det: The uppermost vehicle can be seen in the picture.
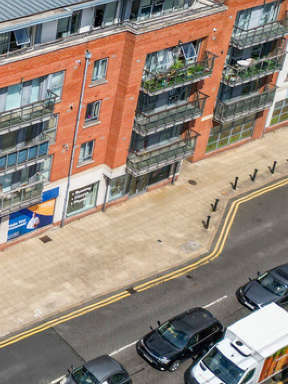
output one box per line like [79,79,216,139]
[234,256,288,309]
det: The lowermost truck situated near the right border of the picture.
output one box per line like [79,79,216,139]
[189,294,288,384]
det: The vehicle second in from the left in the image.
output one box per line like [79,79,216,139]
[133,298,225,370]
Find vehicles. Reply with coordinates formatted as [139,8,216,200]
[234,256,288,309]
[133,298,225,370]
[189,294,288,384]
[62,347,145,384]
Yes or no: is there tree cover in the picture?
No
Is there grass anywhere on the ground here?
No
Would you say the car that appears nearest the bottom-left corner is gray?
Yes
